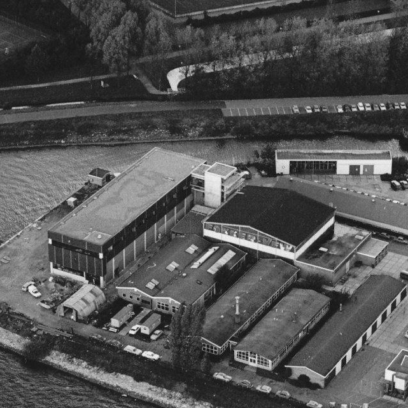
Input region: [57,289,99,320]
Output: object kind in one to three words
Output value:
shed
